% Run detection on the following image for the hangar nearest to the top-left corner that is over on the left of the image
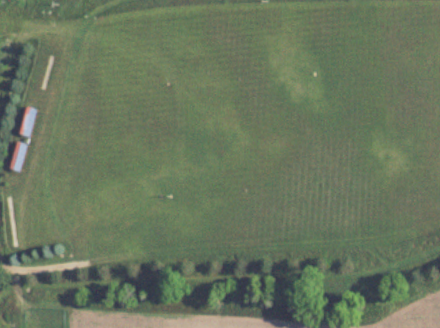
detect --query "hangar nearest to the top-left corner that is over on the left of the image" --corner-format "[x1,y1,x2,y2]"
[20,108,36,136]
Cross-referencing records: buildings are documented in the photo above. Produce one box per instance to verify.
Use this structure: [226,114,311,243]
[20,108,36,136]
[10,142,26,171]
